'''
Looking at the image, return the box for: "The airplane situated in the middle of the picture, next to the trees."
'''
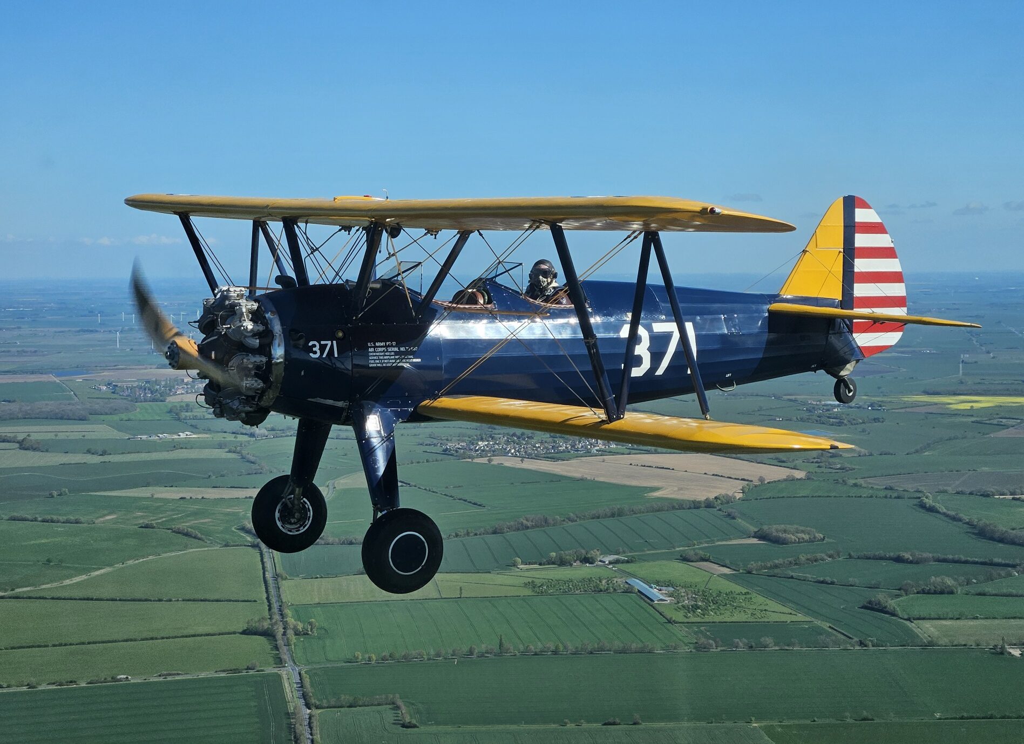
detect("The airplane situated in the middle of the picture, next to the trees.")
[124,186,996,593]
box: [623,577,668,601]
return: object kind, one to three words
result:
barn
